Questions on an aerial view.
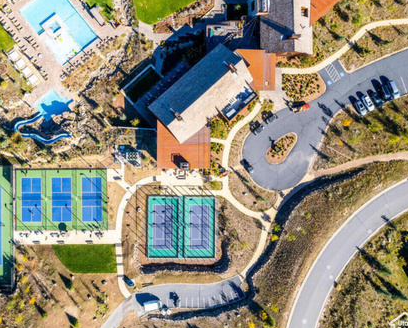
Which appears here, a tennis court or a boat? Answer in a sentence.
The one in the frame is a tennis court.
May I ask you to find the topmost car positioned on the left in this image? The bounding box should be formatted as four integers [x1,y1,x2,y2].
[124,274,136,289]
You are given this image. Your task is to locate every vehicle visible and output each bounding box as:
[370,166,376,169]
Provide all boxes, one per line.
[124,274,136,289]
[386,79,401,96]
[252,121,267,134]
[144,298,162,311]
[354,99,366,116]
[292,102,312,112]
[379,84,392,101]
[371,90,382,106]
[362,94,374,111]
[264,112,279,124]
[166,306,172,316]
[161,307,167,316]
